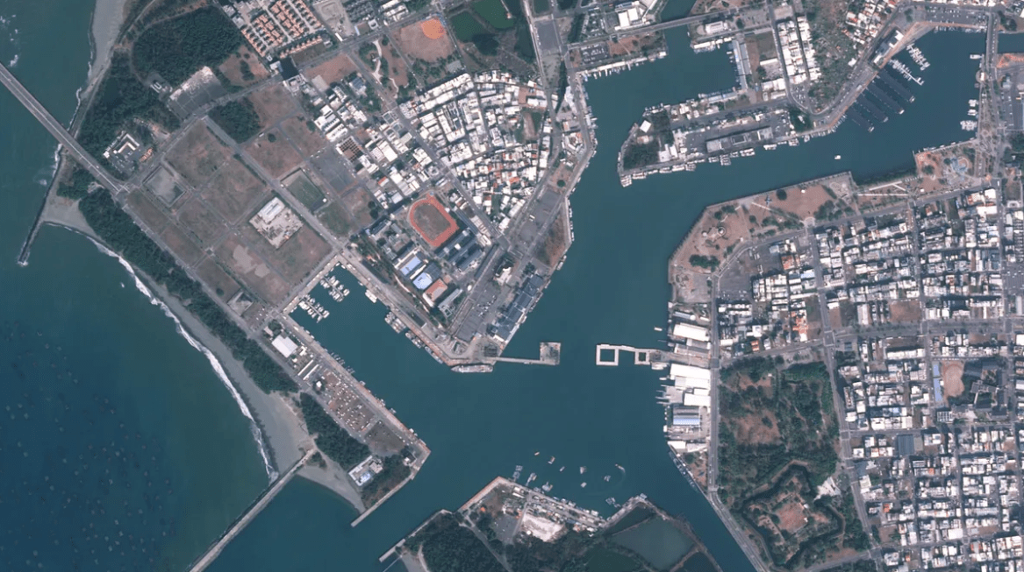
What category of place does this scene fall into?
residential area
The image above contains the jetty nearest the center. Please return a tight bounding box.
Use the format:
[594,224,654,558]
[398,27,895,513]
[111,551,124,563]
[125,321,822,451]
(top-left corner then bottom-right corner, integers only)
[493,343,561,365]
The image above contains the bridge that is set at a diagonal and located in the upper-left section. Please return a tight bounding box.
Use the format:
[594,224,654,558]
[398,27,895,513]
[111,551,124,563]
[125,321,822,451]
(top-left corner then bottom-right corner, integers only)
[0,64,124,191]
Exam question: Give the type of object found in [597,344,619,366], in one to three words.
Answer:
pier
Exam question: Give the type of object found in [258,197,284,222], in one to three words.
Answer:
building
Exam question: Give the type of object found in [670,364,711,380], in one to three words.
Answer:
building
